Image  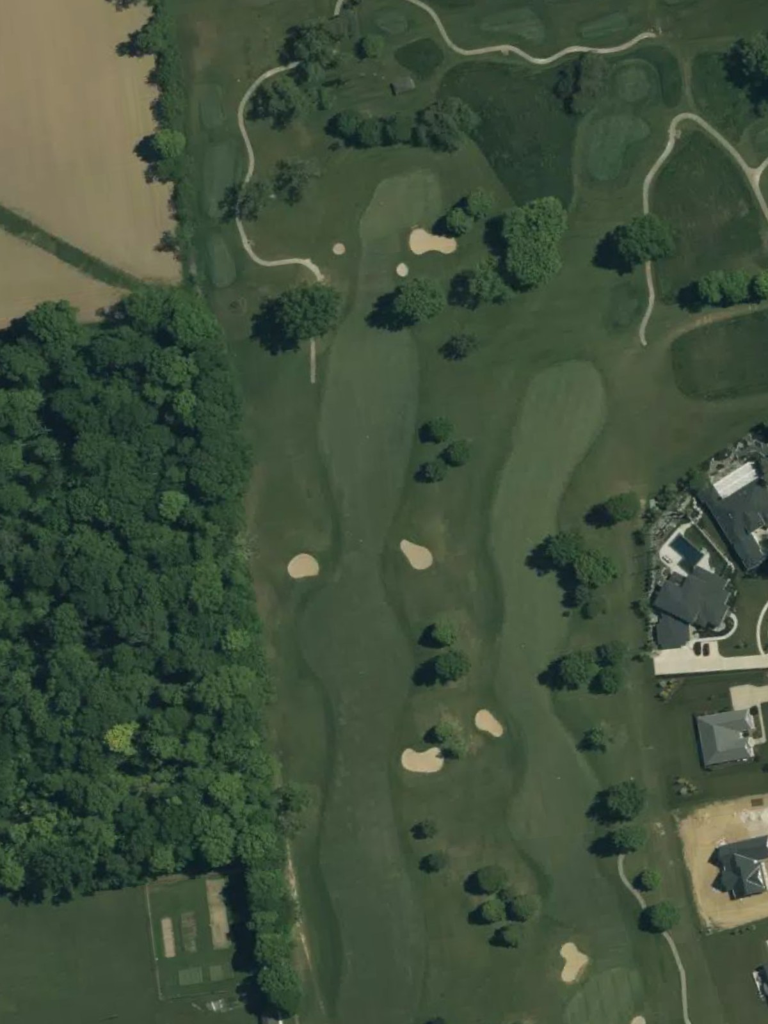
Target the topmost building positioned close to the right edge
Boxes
[704,462,768,571]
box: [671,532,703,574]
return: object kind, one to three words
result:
swimming pool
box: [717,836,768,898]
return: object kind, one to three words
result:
house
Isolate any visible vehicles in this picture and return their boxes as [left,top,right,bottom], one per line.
[695,643,700,655]
[704,644,709,656]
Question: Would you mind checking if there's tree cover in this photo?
Yes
